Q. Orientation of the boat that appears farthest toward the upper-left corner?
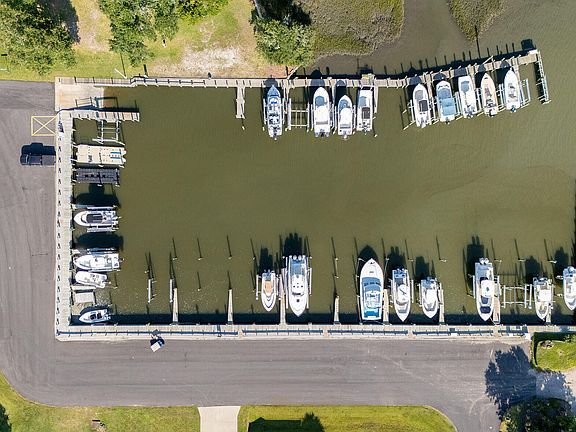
from side to side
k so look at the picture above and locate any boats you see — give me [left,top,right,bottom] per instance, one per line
[532,275,554,320]
[503,68,521,113]
[261,268,276,312]
[392,266,411,321]
[560,264,576,310]
[338,94,354,142]
[266,85,282,141]
[288,253,308,317]
[434,79,455,126]
[312,86,330,141]
[359,258,383,322]
[79,308,115,324]
[77,145,128,165]
[413,82,431,130]
[356,87,372,137]
[474,260,494,321]
[420,277,439,319]
[480,73,498,118]
[71,253,125,270]
[72,210,123,226]
[75,272,112,289]
[458,74,478,120]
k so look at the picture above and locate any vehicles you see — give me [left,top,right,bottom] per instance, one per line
[20,152,56,168]
[150,336,167,351]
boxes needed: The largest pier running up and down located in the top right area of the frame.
[530,55,558,106]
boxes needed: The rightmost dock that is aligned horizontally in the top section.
[396,47,541,93]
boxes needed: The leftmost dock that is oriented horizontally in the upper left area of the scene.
[58,110,142,124]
